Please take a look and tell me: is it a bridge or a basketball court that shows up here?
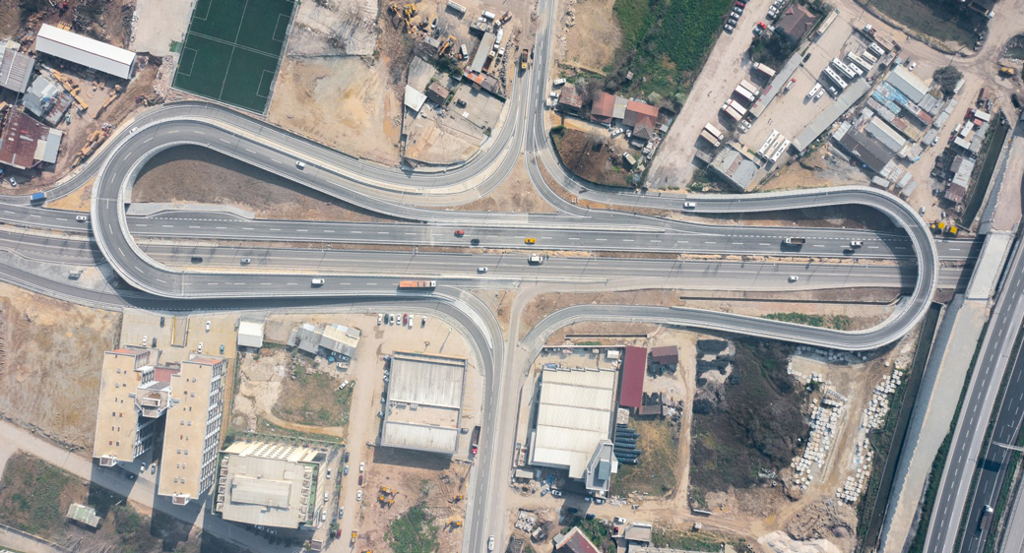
bridge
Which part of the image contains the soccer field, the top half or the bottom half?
top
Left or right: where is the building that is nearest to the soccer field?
left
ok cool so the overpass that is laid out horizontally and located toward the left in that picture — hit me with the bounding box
[90,118,479,300]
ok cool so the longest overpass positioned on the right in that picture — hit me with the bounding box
[588,183,939,353]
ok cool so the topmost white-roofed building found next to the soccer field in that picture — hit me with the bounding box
[35,23,141,81]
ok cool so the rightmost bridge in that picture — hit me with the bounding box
[964,225,1014,307]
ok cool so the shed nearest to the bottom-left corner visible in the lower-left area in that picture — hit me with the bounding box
[66,502,99,528]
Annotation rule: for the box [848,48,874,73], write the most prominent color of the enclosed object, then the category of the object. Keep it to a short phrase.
white bus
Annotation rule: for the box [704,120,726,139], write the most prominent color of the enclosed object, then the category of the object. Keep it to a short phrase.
white vehicle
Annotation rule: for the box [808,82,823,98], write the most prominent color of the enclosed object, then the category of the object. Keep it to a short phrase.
white vehicle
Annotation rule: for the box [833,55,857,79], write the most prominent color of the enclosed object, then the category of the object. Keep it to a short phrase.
white bus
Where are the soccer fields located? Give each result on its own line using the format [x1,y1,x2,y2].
[170,0,298,117]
